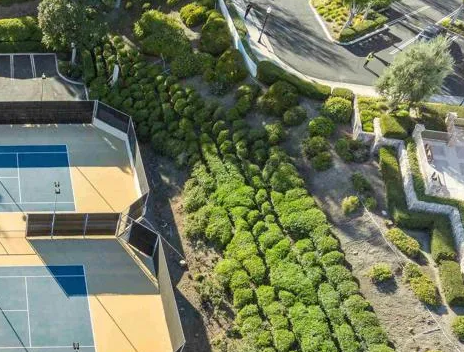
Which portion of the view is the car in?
top right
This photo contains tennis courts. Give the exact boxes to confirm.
[0,265,95,352]
[0,144,76,212]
